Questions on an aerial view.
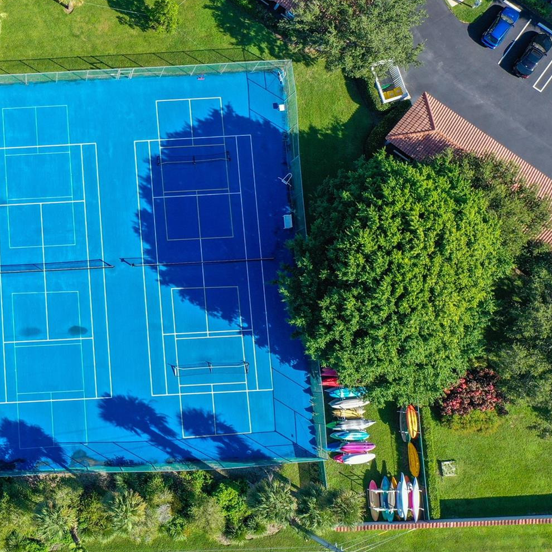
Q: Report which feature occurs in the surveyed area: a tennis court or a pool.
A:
tennis court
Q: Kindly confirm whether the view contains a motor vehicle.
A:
Yes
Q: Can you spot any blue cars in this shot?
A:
Yes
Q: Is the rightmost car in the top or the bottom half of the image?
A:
top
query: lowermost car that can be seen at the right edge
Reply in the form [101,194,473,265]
[513,31,552,80]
